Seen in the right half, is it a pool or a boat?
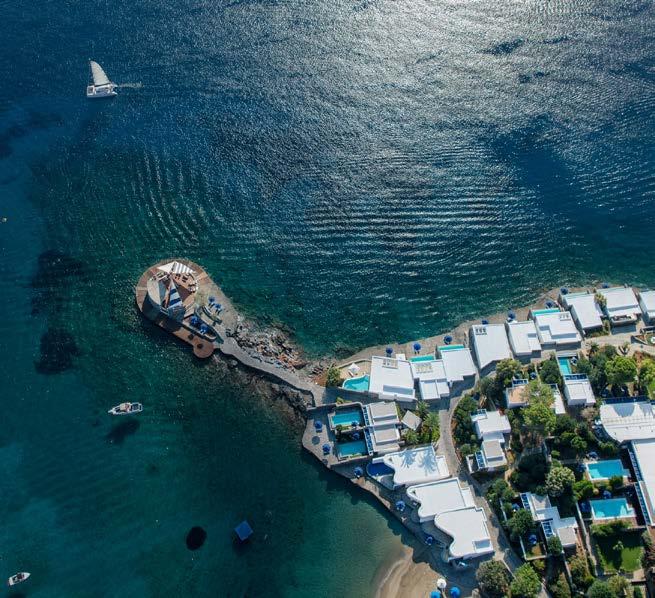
pool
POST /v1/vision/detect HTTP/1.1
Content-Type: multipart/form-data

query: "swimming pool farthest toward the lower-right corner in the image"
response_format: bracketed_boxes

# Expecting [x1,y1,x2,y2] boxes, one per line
[589,496,631,519]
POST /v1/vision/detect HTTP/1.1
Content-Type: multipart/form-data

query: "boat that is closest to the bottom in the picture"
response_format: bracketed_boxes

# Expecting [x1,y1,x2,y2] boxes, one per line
[8,572,31,586]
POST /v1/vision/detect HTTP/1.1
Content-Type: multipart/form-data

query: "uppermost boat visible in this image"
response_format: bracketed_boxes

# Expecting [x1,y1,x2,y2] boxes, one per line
[84,59,120,98]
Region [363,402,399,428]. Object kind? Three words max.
house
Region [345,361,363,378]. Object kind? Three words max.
umbrella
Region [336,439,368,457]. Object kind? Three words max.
swimming pool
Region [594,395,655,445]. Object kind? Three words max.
building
